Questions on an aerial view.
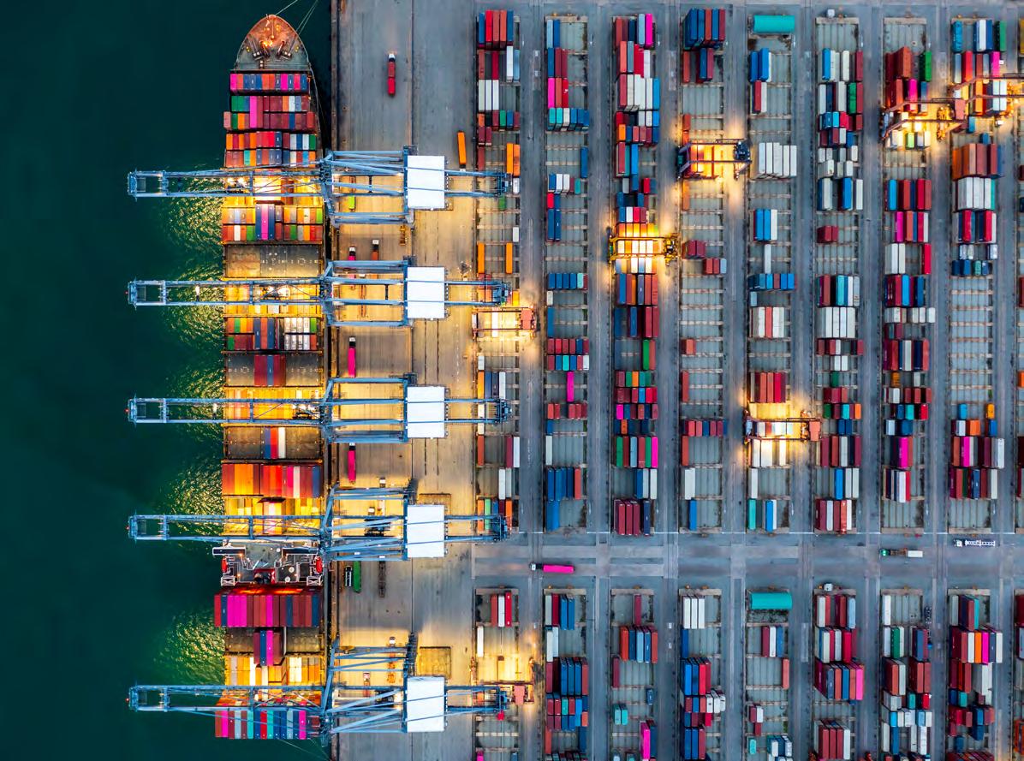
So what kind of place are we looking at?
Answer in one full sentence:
This image shows a port.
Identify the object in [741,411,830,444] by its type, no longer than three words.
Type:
crane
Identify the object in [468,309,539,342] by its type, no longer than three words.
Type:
crane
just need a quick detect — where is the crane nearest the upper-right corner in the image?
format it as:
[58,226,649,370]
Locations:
[946,74,1024,120]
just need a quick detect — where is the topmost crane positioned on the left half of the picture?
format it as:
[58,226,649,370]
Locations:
[124,144,510,239]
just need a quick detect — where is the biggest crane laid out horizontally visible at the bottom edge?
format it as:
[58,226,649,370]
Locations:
[124,628,508,736]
